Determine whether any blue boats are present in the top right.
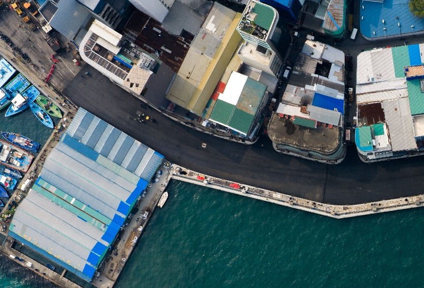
No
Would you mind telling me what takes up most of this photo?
buildings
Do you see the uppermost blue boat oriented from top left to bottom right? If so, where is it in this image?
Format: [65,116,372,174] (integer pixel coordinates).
[31,103,53,128]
